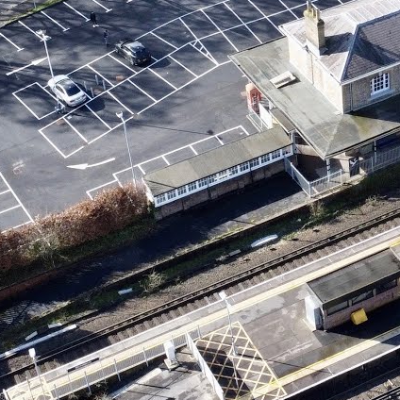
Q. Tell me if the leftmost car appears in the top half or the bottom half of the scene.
top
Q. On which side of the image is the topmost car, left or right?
left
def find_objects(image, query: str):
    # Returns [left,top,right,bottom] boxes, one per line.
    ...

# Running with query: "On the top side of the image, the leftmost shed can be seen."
[137,101,293,218]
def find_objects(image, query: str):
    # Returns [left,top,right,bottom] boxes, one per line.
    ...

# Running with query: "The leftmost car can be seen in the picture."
[40,77,92,110]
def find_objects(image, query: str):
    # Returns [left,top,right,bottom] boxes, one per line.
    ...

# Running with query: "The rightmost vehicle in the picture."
[111,40,153,70]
